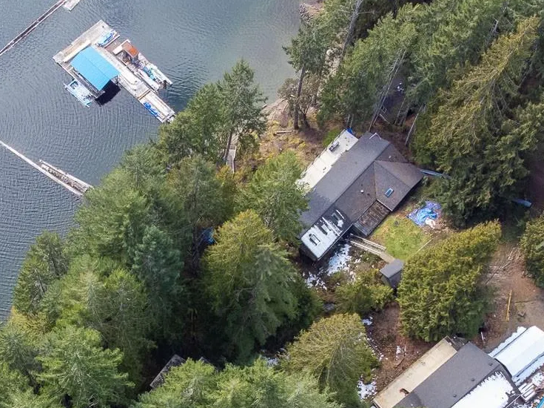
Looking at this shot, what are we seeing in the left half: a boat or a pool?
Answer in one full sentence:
It is a boat that can be seen in the left half.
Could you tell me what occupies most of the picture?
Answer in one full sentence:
The bulk of the photo consists of trees.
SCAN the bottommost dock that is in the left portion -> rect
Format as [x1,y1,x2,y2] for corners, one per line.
[140,88,177,124]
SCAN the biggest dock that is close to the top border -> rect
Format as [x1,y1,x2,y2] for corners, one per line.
[52,20,150,99]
